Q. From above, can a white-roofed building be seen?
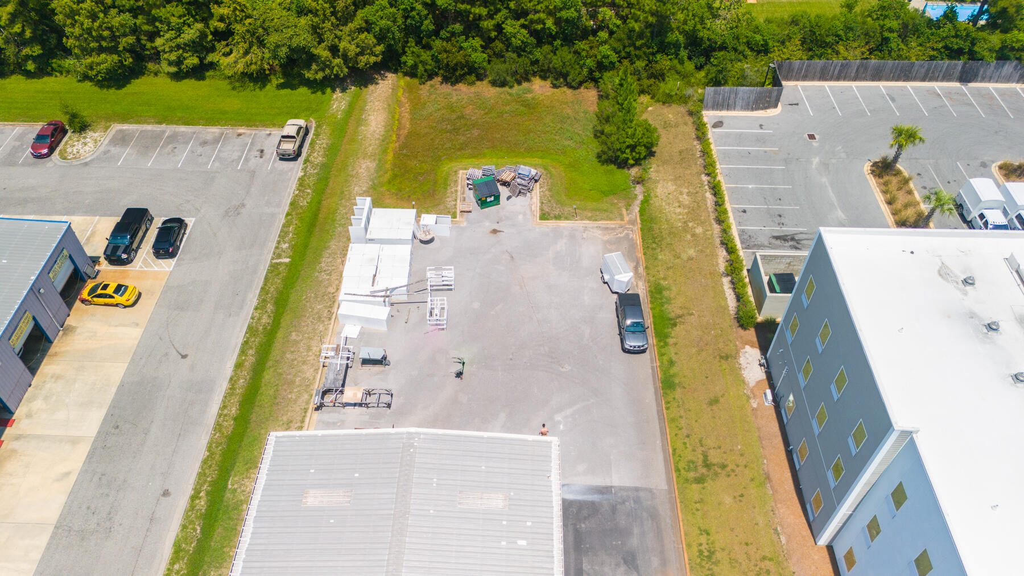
Yes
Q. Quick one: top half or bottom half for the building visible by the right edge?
bottom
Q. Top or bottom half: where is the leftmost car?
top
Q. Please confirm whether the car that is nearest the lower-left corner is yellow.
Yes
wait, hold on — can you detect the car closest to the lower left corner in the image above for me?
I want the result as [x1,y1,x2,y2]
[72,277,141,307]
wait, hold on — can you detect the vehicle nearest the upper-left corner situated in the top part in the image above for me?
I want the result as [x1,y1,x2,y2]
[25,120,65,157]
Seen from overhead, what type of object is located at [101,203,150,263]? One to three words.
truck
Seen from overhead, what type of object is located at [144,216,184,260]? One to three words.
car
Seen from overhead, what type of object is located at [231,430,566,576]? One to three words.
warehouse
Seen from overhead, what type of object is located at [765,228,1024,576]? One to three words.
building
